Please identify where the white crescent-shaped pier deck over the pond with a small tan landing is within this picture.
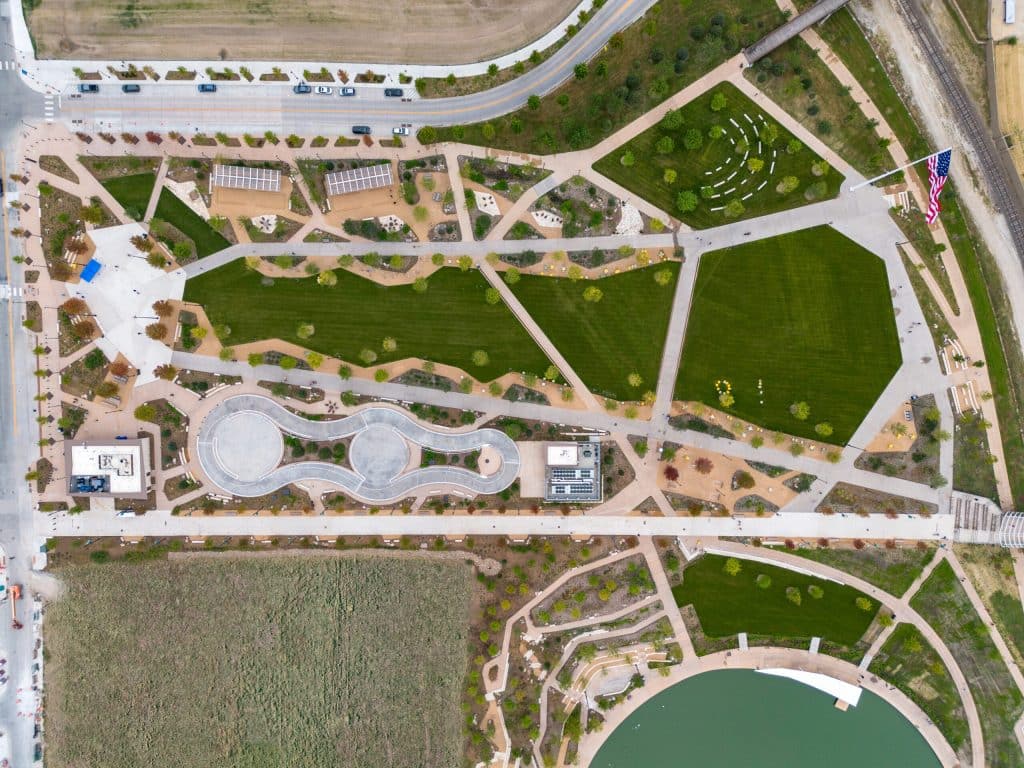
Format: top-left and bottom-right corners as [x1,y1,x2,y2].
[754,667,862,711]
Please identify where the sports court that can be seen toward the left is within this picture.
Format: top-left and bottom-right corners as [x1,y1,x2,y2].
[196,393,521,501]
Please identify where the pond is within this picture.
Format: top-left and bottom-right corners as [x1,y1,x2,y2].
[588,666,944,768]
